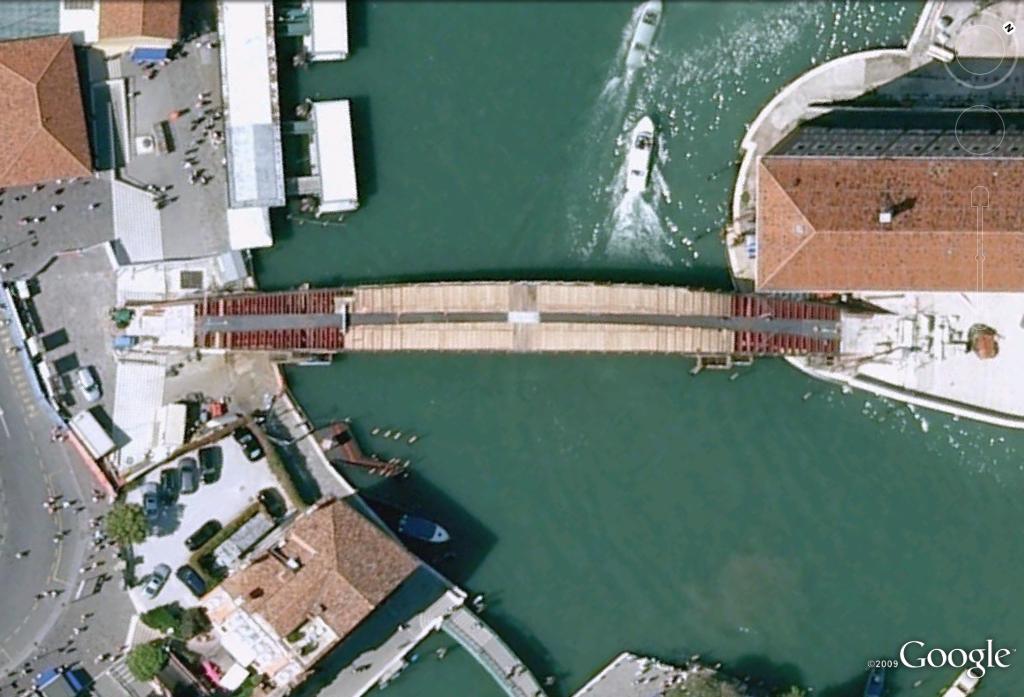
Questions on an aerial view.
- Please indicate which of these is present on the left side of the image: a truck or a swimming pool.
truck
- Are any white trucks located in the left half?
Yes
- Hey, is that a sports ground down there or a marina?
marina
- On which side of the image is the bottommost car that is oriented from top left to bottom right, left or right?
left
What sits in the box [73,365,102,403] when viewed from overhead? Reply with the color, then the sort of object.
white car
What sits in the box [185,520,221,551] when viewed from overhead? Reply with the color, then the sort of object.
black car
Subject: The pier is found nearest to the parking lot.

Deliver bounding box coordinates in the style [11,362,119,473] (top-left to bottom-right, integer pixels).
[318,421,404,476]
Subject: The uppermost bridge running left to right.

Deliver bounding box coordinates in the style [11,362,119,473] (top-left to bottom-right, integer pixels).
[190,279,846,356]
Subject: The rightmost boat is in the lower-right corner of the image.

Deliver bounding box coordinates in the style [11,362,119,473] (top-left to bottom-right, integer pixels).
[947,667,981,697]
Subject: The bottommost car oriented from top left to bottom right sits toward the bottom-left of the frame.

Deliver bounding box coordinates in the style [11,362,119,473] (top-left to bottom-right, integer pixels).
[175,563,206,599]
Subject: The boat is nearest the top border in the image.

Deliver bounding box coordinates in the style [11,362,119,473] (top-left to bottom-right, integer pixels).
[625,0,661,70]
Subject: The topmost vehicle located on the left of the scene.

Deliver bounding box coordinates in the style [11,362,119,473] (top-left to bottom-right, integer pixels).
[112,336,138,349]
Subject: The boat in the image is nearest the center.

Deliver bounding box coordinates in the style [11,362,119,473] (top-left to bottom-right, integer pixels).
[396,514,448,540]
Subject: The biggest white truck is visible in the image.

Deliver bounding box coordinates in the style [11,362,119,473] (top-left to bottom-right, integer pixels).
[72,411,119,466]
